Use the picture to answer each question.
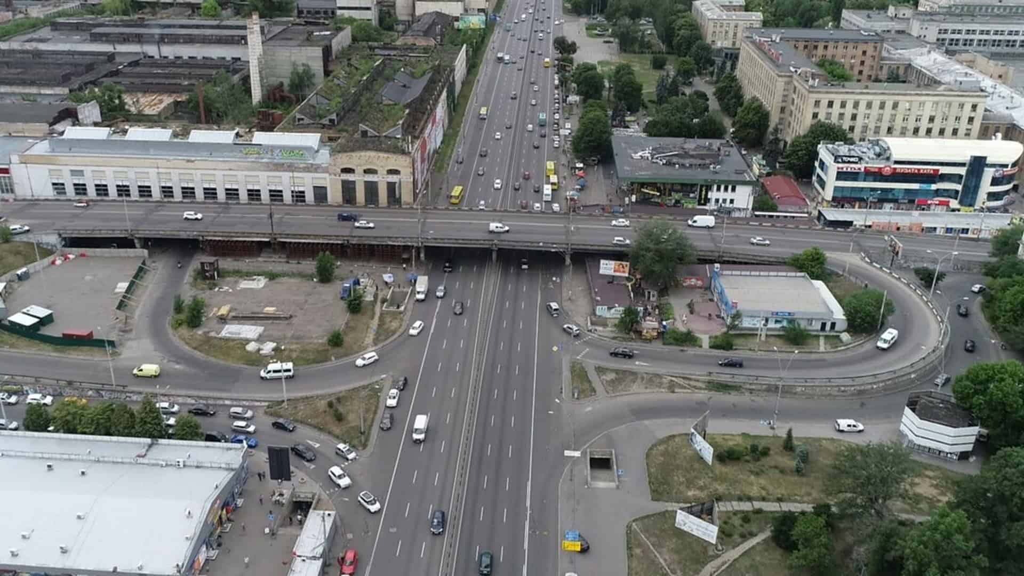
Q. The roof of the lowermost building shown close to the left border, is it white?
Yes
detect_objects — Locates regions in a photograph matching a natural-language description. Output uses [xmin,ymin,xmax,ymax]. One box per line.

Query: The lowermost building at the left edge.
[0,431,249,576]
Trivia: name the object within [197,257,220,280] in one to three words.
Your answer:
shed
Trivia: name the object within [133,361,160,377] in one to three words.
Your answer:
vehicle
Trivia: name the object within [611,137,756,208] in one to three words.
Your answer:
building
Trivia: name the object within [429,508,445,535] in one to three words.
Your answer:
car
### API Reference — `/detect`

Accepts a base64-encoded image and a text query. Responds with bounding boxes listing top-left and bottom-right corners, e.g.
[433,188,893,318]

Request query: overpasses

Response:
[0,198,1000,276]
